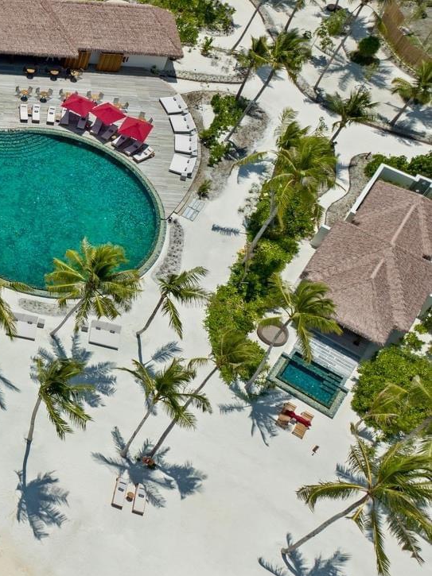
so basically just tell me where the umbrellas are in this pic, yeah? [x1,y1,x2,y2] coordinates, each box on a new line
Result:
[61,91,98,123]
[118,114,154,147]
[91,98,127,131]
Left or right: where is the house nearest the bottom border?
right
